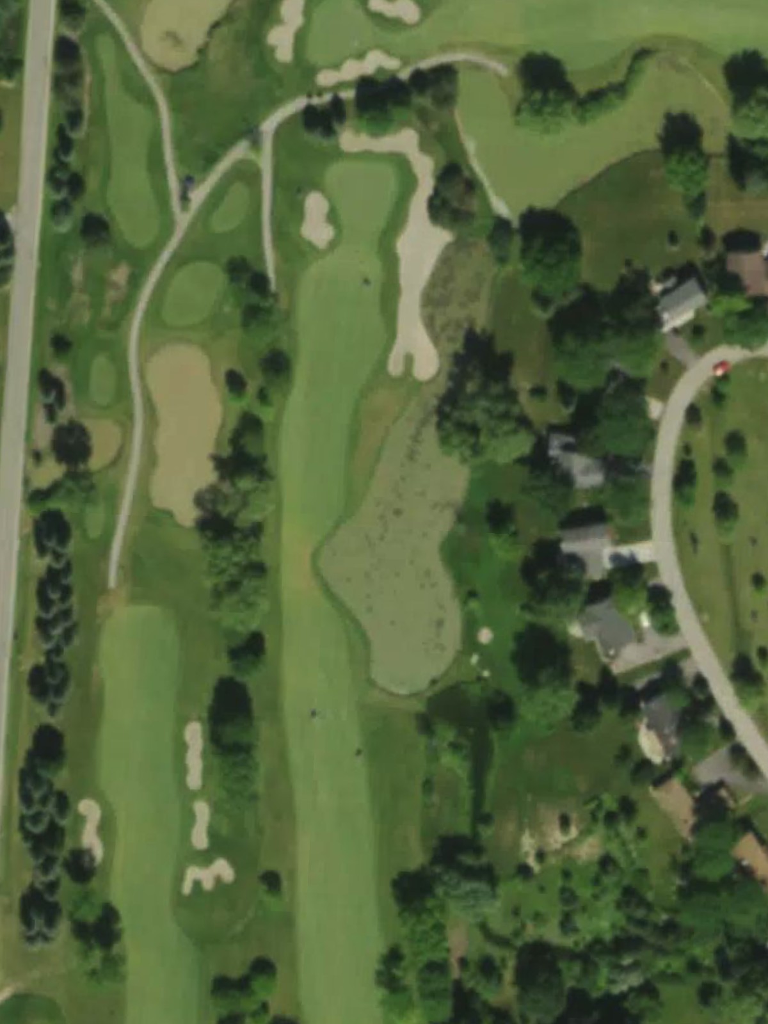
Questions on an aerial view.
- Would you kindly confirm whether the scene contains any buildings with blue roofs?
No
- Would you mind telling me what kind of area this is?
golf course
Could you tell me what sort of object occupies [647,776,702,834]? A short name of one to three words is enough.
house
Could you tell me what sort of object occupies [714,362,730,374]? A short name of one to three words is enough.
vehicle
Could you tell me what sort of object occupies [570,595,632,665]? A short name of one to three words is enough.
house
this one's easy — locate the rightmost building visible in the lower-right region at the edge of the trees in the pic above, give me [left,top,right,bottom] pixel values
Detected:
[734,835,768,879]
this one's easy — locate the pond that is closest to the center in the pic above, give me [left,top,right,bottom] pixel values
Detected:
[303,374,480,703]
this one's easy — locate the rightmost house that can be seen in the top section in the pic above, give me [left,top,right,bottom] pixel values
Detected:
[729,248,768,300]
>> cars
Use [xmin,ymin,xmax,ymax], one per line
[714,362,730,374]
[639,612,650,628]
